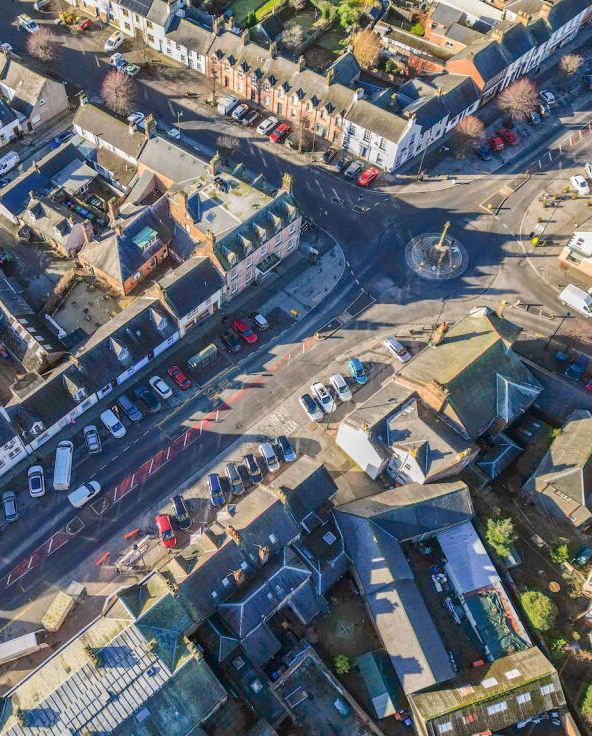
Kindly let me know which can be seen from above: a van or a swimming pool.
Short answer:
van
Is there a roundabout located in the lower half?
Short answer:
No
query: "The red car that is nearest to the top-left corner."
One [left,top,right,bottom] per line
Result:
[77,19,94,33]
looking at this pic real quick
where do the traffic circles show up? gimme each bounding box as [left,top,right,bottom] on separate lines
[405,234,467,281]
